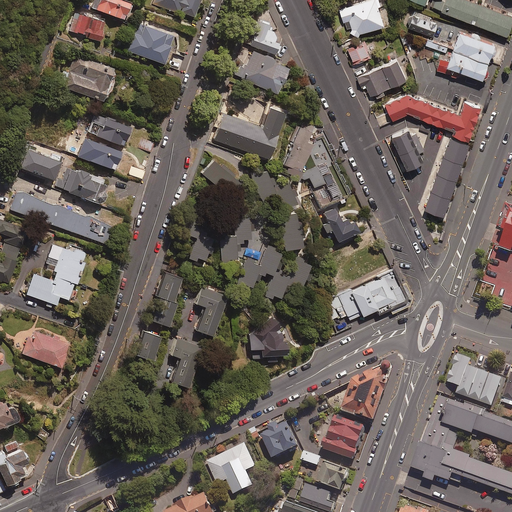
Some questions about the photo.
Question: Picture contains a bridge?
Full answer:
No, there is no bridge in the image.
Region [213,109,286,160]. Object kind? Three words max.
building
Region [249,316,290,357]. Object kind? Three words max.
house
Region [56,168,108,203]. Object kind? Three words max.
house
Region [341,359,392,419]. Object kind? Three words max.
building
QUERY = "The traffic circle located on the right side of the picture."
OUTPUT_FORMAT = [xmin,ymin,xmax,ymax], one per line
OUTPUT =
[418,300,443,352]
